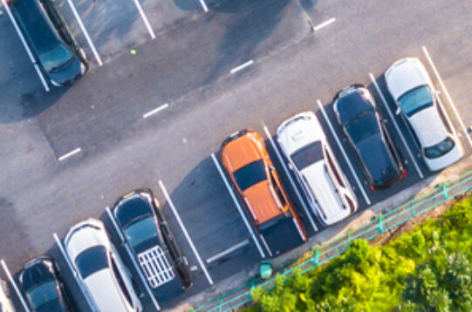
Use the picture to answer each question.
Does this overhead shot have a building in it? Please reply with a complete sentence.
No, I can't see a single building in this photo.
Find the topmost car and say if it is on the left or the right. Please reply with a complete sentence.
The topmost car is on the left side of the image.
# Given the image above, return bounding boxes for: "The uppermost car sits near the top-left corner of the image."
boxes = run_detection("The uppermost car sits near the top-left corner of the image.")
[6,0,89,89]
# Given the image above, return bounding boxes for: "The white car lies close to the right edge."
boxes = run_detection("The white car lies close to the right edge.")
[385,55,464,175]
